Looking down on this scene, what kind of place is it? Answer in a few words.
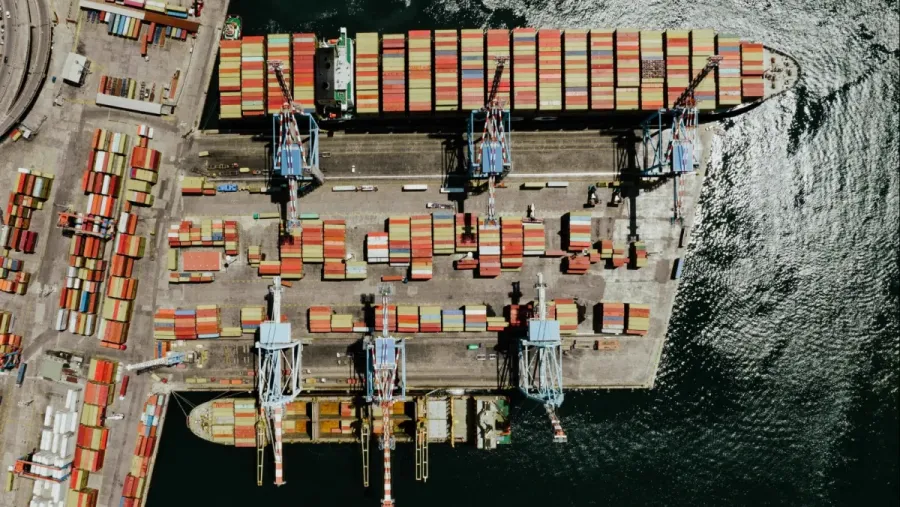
port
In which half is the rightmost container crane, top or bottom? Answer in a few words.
top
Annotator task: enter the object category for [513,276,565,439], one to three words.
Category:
container crane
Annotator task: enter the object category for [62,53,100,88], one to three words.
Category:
building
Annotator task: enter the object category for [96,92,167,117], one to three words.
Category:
shed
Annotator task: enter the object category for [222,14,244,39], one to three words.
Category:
boat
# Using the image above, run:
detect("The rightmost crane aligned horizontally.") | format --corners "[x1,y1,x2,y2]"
[122,344,208,372]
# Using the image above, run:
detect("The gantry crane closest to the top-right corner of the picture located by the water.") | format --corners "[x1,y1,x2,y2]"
[635,56,722,220]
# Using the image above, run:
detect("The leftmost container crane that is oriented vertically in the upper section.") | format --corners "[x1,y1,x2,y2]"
[267,62,327,224]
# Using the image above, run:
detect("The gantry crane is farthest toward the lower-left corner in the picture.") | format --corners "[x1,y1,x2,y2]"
[9,446,74,488]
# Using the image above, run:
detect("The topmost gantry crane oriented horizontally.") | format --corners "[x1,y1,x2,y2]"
[53,210,120,242]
